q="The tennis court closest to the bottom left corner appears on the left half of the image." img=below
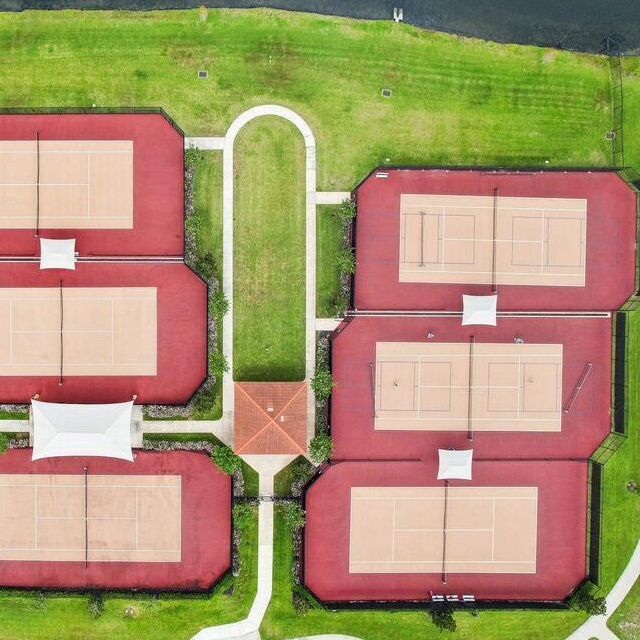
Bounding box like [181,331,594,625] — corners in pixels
[0,449,232,589]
